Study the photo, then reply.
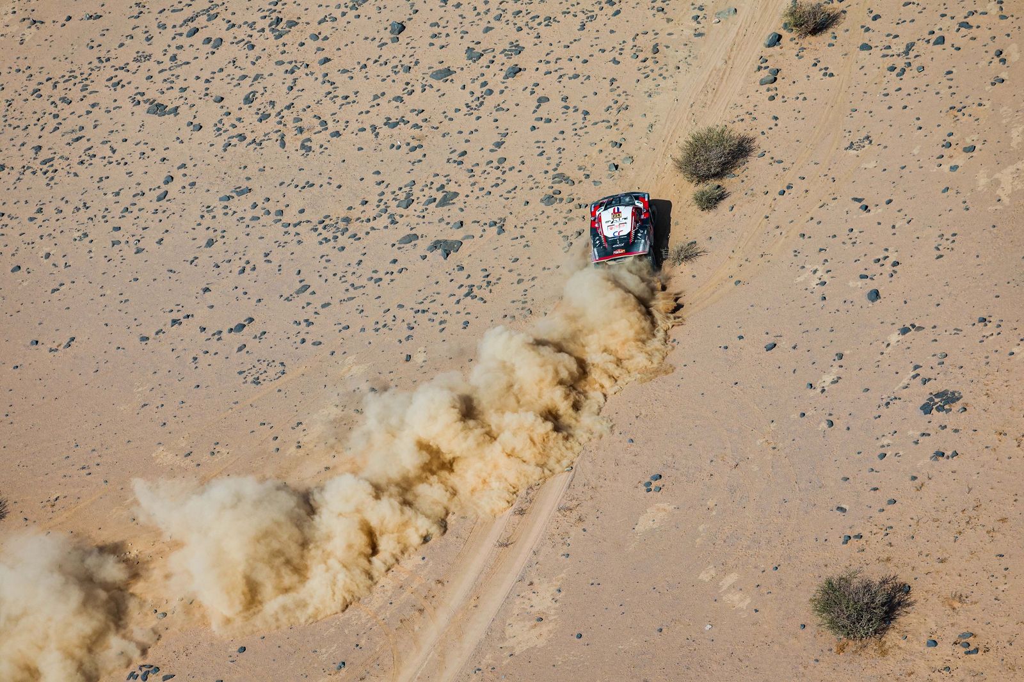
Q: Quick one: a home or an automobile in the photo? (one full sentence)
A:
There is an automobile in the scene.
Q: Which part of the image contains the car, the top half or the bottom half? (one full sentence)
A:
It is in the top half that the car appears.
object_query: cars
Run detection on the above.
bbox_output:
[590,192,657,282]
